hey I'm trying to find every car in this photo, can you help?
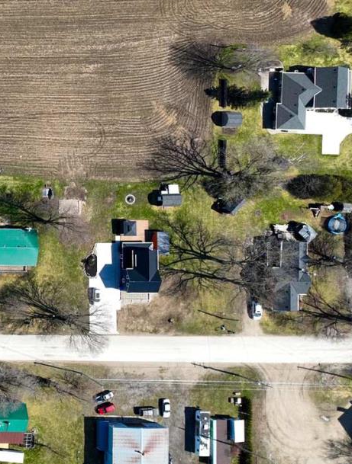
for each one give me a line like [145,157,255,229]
[97,390,113,403]
[92,286,101,305]
[252,301,261,320]
[161,398,172,417]
[95,403,116,415]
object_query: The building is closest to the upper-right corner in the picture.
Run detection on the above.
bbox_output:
[271,64,352,130]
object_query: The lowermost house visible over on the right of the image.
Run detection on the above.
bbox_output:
[206,417,239,464]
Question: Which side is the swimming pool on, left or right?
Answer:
right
